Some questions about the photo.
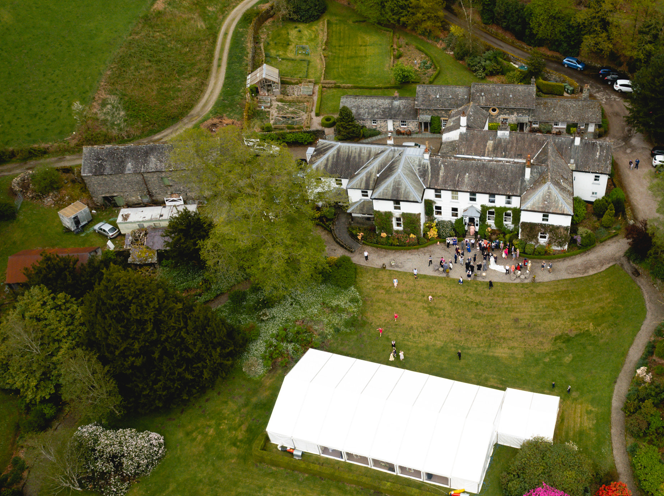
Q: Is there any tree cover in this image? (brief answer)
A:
Yes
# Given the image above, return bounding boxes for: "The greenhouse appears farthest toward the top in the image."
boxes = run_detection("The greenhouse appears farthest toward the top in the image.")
[250,62,281,97]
